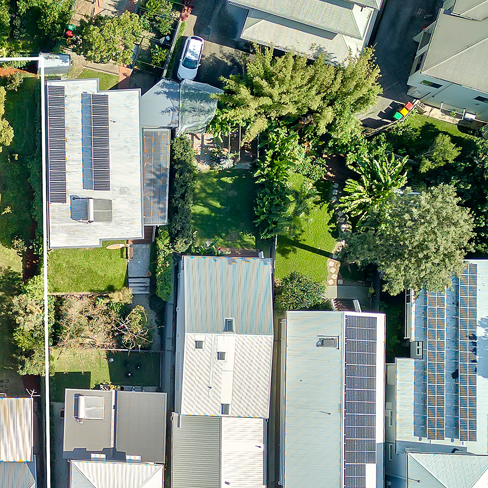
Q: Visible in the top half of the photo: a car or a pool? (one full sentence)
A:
The feature located in the top half of the photo is a car.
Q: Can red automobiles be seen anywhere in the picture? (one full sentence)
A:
No, there's no red automobile here.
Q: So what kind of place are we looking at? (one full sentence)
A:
The picture captures a residential area.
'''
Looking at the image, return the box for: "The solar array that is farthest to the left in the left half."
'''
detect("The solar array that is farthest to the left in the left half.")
[47,85,66,203]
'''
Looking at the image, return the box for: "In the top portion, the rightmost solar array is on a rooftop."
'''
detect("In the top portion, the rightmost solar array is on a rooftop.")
[90,94,110,191]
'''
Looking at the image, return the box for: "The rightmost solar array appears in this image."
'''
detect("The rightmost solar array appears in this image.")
[453,264,478,442]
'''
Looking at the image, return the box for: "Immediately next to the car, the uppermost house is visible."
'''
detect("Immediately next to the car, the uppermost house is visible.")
[216,0,383,69]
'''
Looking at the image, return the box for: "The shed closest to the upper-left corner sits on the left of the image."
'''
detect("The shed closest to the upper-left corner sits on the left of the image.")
[38,55,71,75]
